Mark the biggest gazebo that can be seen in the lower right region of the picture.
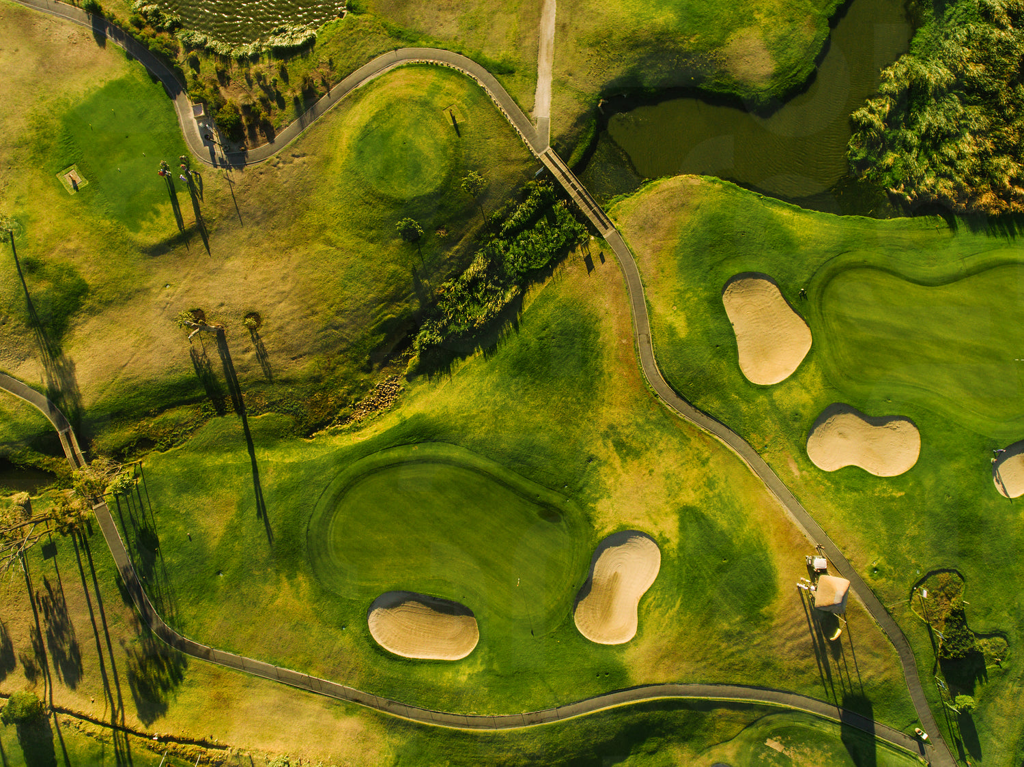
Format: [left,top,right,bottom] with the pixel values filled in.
[803,568,856,614]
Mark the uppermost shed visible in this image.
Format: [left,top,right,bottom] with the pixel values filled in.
[188,100,212,122]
